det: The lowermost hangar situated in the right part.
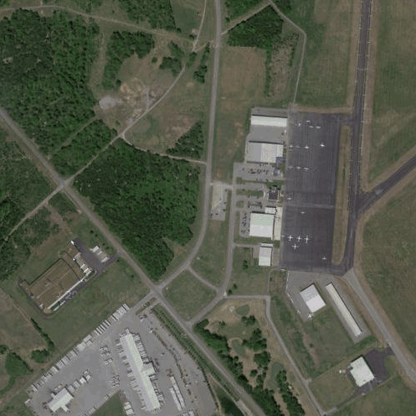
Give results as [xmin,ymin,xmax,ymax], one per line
[351,356,374,387]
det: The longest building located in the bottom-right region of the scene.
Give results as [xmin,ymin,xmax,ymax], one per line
[326,282,363,337]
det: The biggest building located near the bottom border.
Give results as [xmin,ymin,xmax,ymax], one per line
[119,332,160,412]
